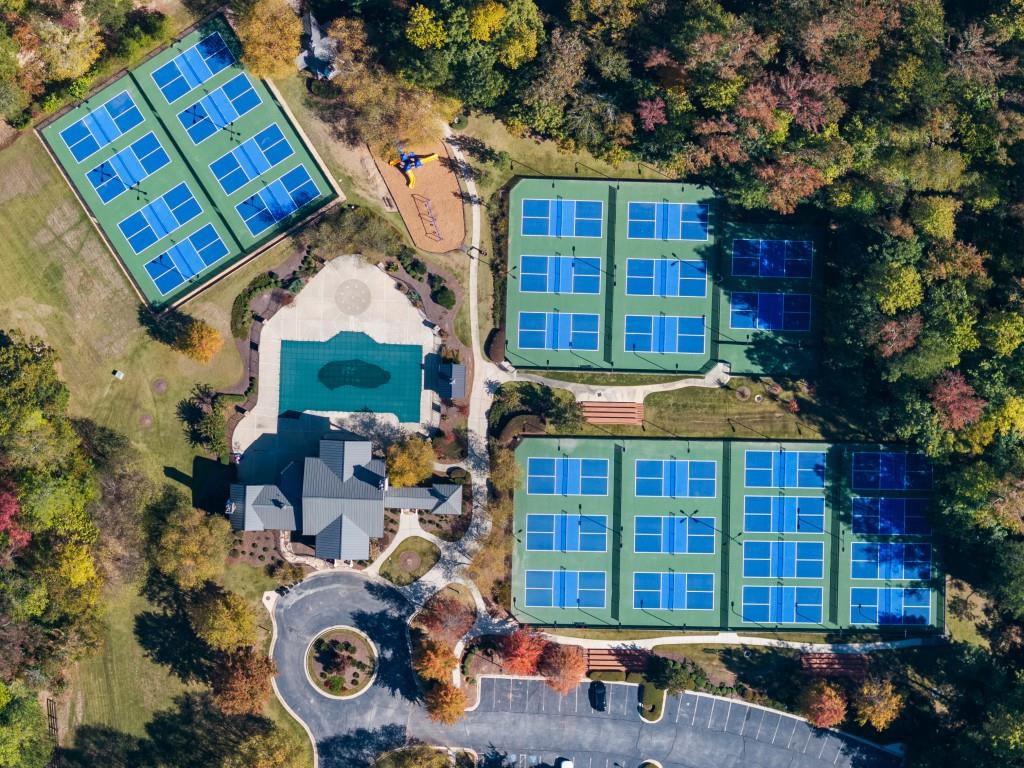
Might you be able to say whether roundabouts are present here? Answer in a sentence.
Yes, a roundabout appears in the view.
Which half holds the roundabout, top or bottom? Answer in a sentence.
It is in the bottom half that the roundabout appears.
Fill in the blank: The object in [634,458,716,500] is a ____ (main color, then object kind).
blue sports court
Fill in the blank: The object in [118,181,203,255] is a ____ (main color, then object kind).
blue sports court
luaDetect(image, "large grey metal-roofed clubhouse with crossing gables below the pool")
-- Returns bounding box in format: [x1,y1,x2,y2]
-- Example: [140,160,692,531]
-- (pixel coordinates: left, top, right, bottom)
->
[228,441,462,566]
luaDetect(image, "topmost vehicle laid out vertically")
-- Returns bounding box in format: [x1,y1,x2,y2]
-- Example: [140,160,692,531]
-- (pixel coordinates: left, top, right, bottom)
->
[593,682,607,712]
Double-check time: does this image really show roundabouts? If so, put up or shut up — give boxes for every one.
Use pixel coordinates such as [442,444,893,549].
[304,625,378,699]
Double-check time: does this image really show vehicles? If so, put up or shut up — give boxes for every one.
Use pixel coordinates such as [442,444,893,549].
[561,760,573,768]
[593,682,607,712]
